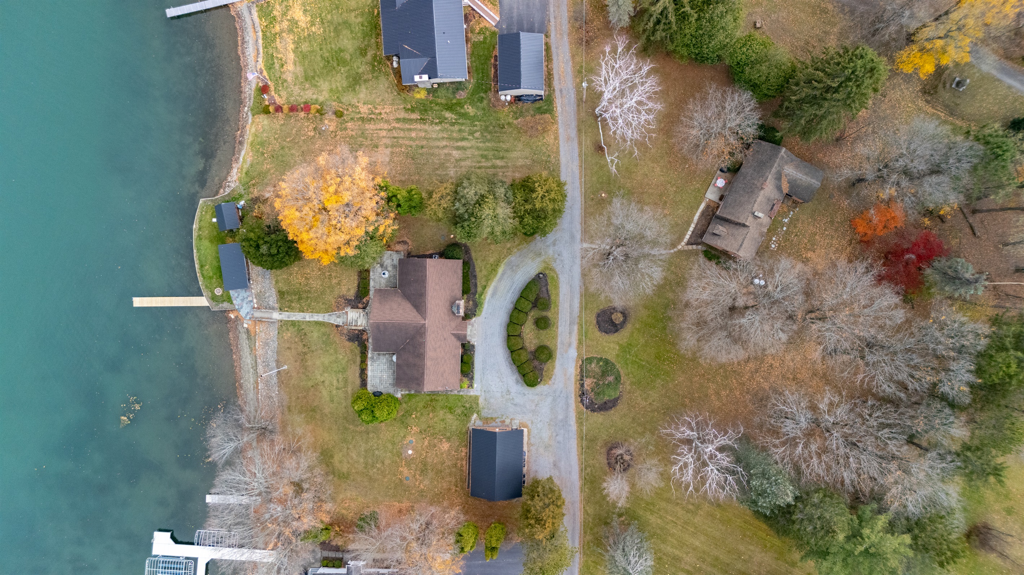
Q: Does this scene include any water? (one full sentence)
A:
Yes, water can be seen from above here.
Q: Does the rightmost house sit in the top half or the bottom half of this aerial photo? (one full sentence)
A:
It is in the top half that the rightmost house appears.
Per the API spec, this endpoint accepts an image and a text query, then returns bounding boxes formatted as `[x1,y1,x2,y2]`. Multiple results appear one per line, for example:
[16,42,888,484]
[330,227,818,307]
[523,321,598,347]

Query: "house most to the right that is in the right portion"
[700,139,824,259]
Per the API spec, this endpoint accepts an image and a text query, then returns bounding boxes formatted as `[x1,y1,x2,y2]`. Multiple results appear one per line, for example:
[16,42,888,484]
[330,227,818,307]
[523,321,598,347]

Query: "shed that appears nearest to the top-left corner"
[214,202,242,232]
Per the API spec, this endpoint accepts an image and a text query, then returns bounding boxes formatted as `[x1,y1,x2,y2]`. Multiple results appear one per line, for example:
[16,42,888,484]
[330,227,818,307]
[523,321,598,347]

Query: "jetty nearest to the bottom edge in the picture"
[150,531,285,575]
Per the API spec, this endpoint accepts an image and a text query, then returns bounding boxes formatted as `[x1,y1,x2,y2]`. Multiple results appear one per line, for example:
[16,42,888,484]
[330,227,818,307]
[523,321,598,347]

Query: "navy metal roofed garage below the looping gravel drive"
[470,427,524,502]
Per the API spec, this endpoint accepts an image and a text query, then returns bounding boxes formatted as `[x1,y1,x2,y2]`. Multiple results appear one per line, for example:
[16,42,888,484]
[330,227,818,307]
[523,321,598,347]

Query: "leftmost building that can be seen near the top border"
[380,0,468,93]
